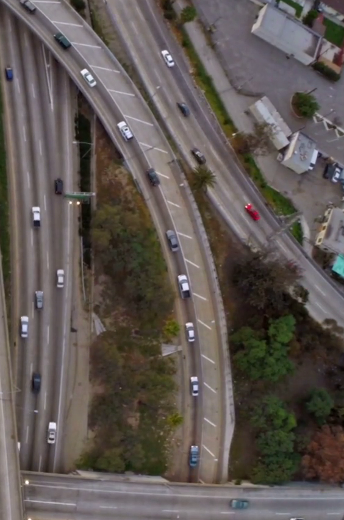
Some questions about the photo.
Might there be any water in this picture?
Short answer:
No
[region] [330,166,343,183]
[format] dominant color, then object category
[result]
white vehicle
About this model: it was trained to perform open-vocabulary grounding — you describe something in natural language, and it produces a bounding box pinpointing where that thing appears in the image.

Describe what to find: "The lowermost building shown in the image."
[312,208,344,256]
